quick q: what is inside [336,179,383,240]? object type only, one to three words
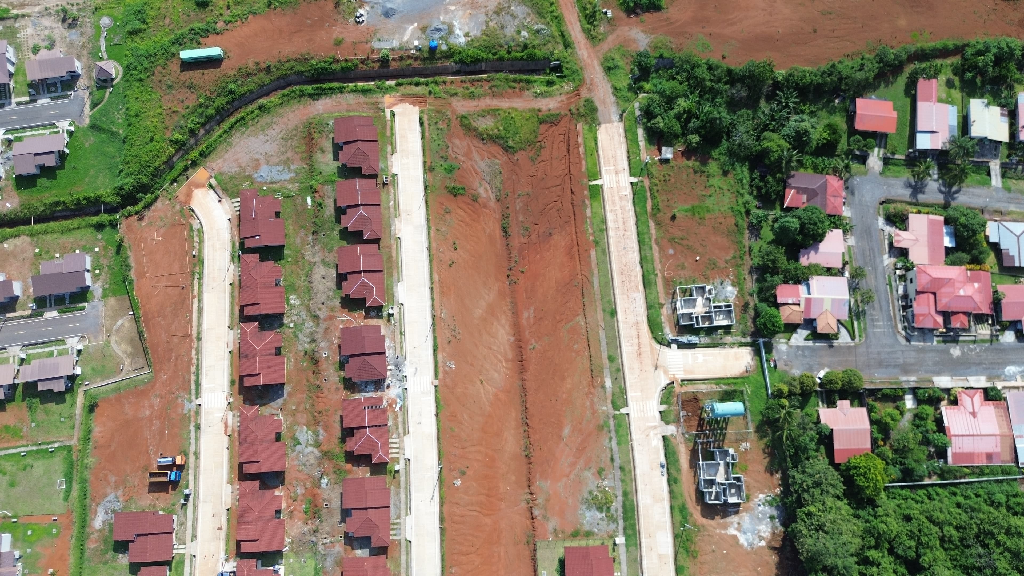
house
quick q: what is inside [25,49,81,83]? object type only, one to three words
house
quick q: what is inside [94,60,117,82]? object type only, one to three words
gazebo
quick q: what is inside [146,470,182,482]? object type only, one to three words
vehicle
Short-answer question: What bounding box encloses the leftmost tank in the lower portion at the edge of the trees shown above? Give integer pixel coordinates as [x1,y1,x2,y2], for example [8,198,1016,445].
[691,401,748,418]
